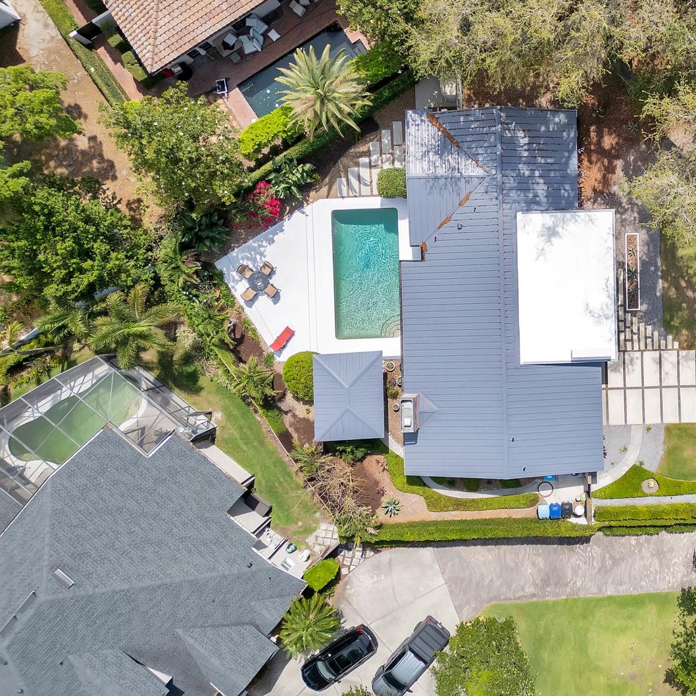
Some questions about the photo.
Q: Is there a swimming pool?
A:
Yes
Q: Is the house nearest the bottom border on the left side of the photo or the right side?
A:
left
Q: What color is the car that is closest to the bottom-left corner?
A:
black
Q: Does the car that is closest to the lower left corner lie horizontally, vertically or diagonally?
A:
diagonally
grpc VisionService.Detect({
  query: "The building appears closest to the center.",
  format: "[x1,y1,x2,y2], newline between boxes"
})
[313,350,390,443]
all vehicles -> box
[367,613,451,696]
[300,621,381,694]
